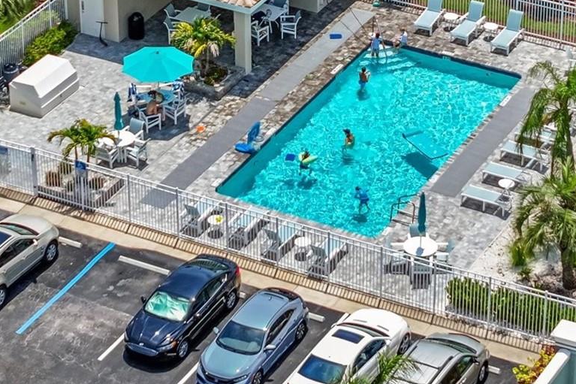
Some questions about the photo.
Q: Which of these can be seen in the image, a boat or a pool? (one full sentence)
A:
I can see a pool in this picture.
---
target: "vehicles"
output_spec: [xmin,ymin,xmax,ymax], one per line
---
[297,301,416,384]
[389,323,493,384]
[194,283,311,384]
[118,252,243,362]
[0,213,65,306]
